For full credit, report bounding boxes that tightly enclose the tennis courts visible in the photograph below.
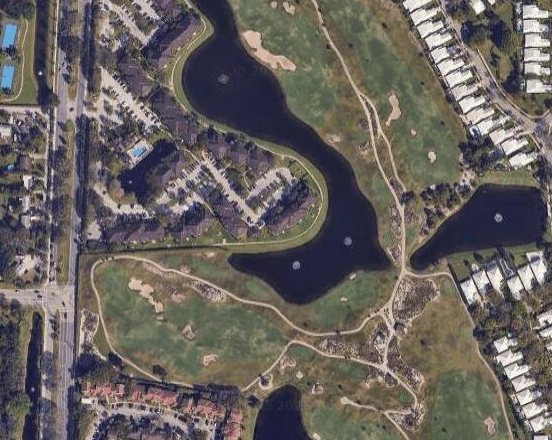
[0,61,18,94]
[0,20,19,50]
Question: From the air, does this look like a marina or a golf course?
golf course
